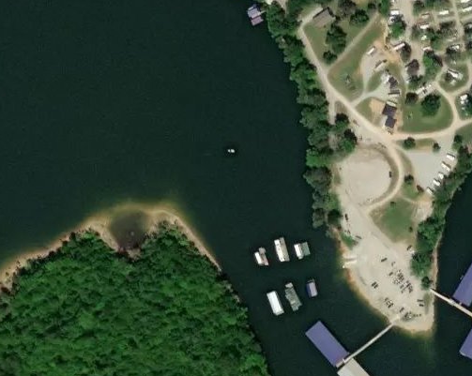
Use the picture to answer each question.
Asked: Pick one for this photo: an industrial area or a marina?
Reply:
marina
